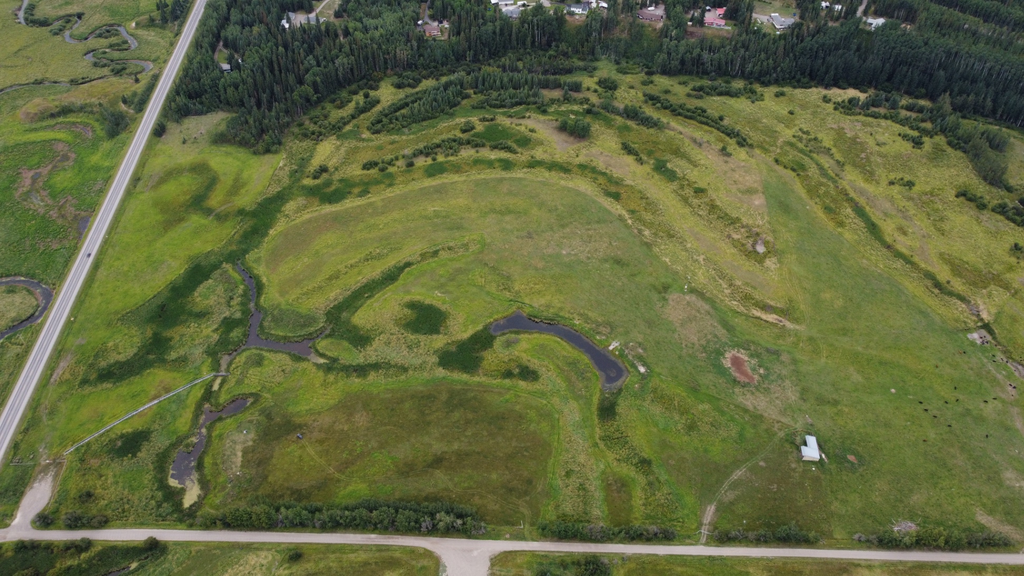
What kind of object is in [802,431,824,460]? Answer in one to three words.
barn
